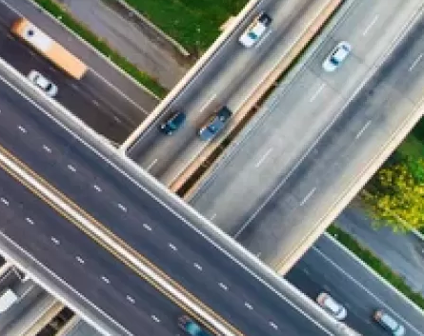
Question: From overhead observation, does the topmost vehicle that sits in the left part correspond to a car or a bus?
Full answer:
In the photo, the topmost vehicle that sits in the left part shows up as a bus.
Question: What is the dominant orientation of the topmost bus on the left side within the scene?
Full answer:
From this overhead view, the topmost bus on the left side appears to run at an angle.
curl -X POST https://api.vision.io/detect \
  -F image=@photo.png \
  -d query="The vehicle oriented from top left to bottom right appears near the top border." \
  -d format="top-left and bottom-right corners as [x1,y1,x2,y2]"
[7,15,86,80]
